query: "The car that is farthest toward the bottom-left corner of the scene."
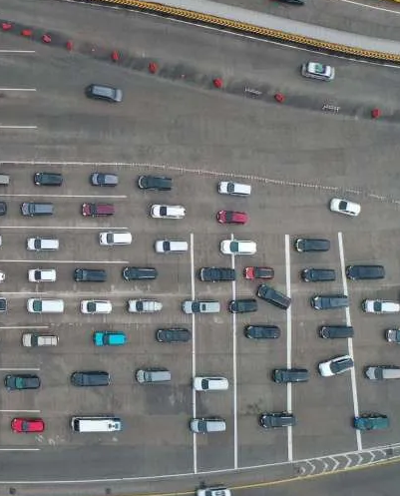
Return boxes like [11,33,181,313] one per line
[11,416,46,433]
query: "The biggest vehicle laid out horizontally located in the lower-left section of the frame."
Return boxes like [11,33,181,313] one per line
[70,414,123,433]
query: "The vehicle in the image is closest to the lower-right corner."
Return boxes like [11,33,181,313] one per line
[352,413,392,430]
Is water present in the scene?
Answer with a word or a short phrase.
No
